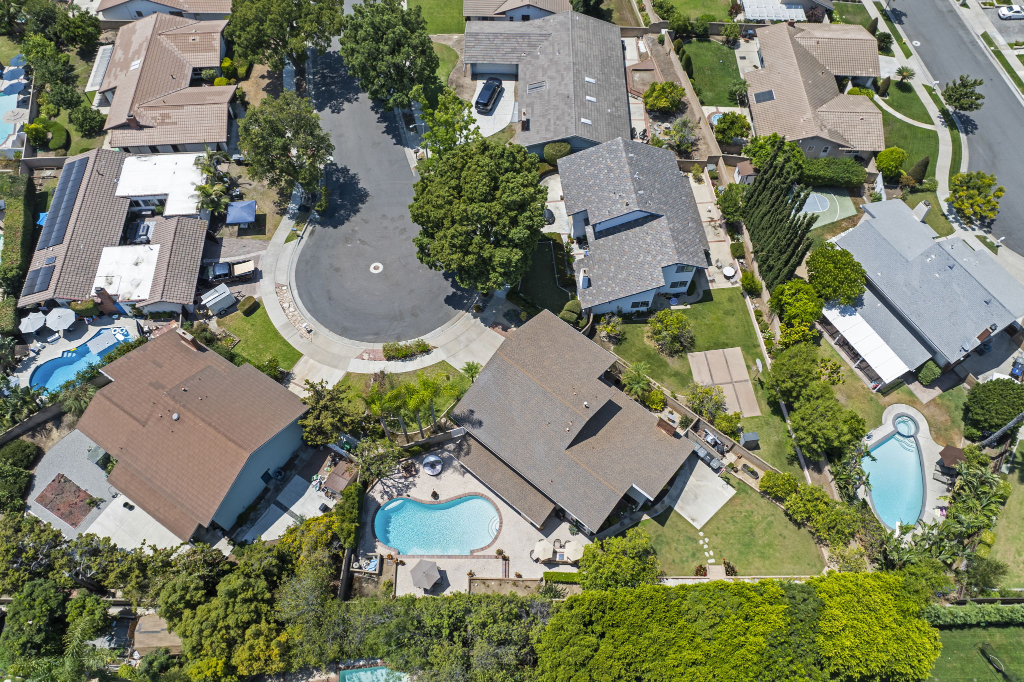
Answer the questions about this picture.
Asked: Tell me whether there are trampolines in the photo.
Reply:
No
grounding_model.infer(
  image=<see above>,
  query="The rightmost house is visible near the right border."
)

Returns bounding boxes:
[838,182,1024,372]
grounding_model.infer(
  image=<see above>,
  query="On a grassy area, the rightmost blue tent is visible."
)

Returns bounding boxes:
[226,201,263,238]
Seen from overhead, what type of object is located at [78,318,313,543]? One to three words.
house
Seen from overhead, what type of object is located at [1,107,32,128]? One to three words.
umbrella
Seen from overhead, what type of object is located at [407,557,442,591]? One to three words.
umbrella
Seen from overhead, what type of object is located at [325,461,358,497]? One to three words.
shed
